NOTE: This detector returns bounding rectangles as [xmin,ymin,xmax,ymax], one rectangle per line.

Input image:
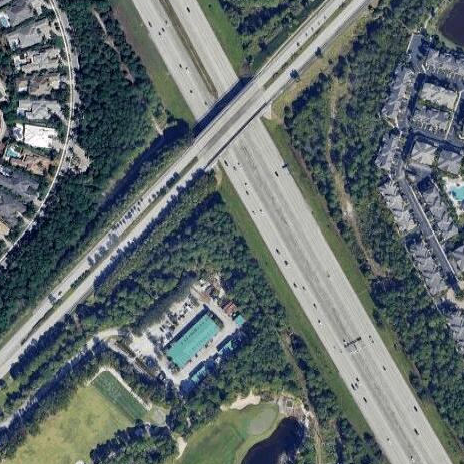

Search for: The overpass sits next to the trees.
[190,75,273,160]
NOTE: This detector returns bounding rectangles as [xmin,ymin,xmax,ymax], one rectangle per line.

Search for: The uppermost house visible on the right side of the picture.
[425,41,464,81]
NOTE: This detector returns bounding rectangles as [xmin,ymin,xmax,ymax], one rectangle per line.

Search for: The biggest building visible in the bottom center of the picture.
[164,315,220,367]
